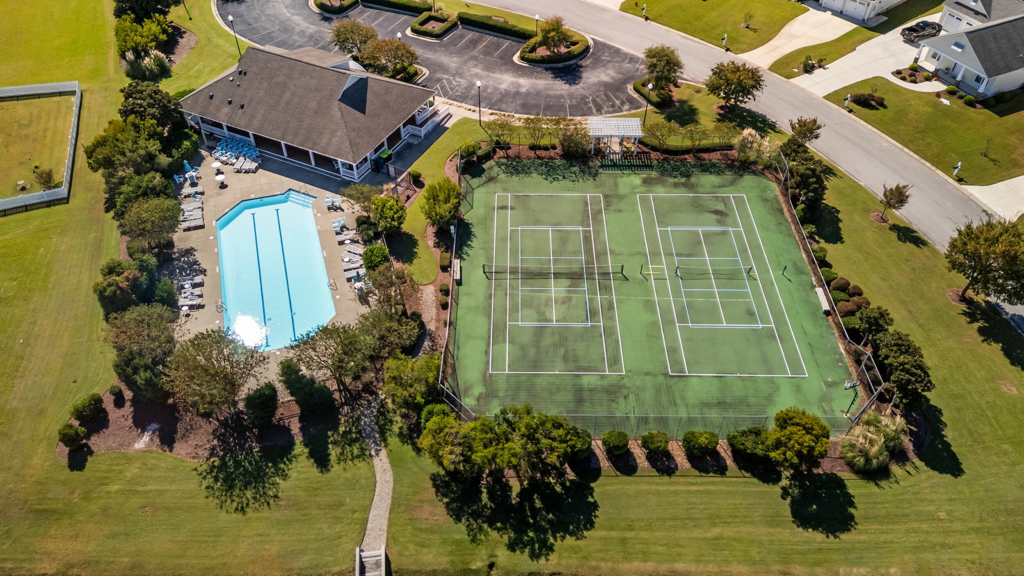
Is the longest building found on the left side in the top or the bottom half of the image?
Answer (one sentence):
The longest building found on the left side sits in the top half of the picture.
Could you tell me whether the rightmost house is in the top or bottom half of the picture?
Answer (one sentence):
The rightmost house sits in the top half of the picture.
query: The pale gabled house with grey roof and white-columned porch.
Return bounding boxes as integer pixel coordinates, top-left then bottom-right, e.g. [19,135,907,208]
[912,0,1024,99]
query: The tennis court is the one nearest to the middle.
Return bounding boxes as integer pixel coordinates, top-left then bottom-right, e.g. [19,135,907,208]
[489,194,625,374]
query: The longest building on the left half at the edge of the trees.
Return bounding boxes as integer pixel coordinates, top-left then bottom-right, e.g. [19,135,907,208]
[180,45,453,185]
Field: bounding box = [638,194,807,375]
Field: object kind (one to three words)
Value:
tennis court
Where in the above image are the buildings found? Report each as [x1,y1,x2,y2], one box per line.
[808,0,904,22]
[912,0,1024,99]
[180,45,453,185]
